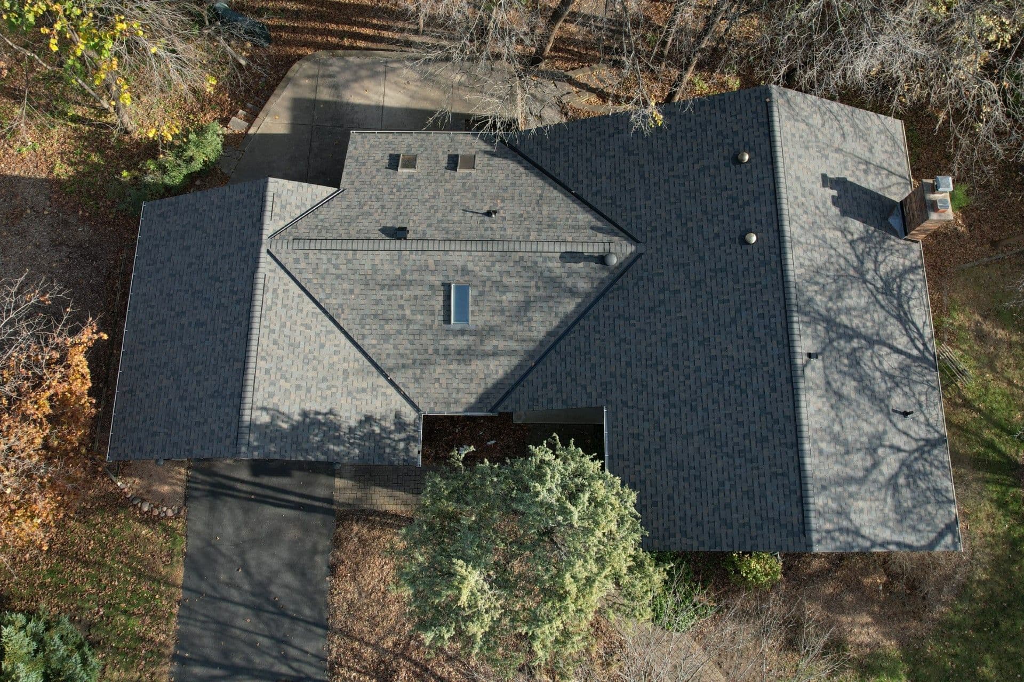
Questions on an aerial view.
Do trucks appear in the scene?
No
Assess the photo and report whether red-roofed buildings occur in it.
No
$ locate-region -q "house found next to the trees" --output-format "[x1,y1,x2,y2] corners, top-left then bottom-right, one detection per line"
[105,83,966,559]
